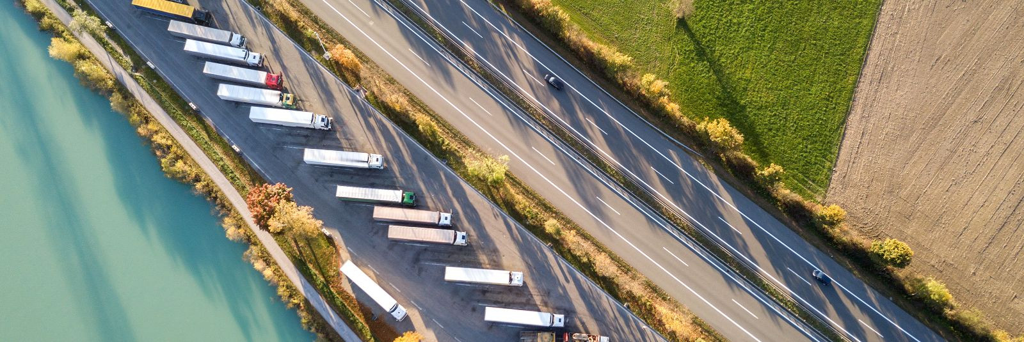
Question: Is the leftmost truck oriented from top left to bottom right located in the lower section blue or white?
white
